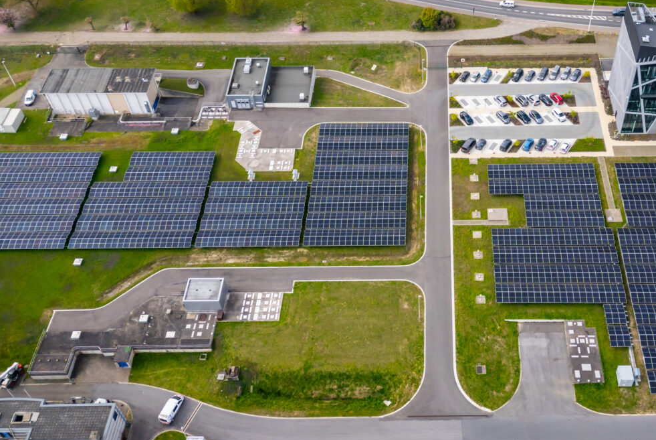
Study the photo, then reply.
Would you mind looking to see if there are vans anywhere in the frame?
Yes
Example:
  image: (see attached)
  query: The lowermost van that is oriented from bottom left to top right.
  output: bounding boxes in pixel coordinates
[156,394,186,424]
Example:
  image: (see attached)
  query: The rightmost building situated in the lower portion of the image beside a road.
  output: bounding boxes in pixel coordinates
[183,278,228,309]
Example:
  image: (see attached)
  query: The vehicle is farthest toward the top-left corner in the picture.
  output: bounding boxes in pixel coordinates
[21,87,39,107]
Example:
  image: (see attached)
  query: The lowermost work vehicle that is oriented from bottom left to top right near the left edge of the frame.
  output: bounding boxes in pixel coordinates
[0,361,26,391]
